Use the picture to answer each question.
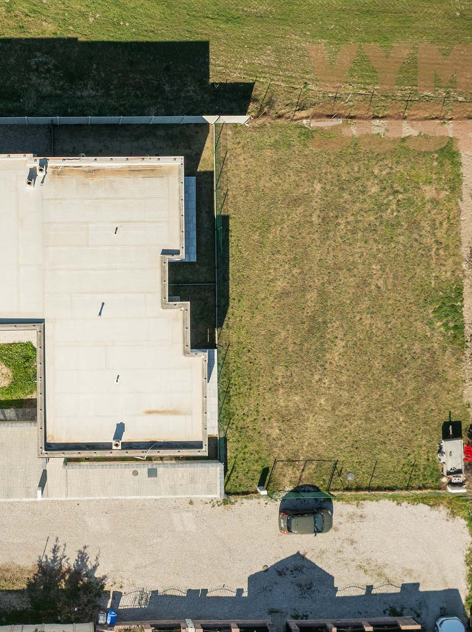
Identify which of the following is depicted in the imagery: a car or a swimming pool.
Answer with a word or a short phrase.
car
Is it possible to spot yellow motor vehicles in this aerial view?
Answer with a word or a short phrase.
No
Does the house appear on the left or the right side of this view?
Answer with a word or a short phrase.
left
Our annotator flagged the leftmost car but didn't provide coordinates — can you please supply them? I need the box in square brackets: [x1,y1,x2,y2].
[277,506,333,538]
